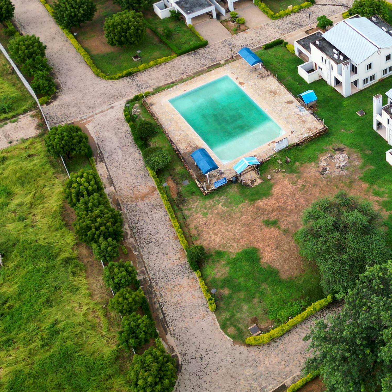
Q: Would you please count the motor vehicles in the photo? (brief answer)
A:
none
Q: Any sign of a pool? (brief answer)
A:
Yes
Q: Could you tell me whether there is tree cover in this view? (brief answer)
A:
Yes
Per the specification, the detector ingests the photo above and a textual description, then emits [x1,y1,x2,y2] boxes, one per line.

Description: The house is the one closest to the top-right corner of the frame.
[293,13,392,97]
